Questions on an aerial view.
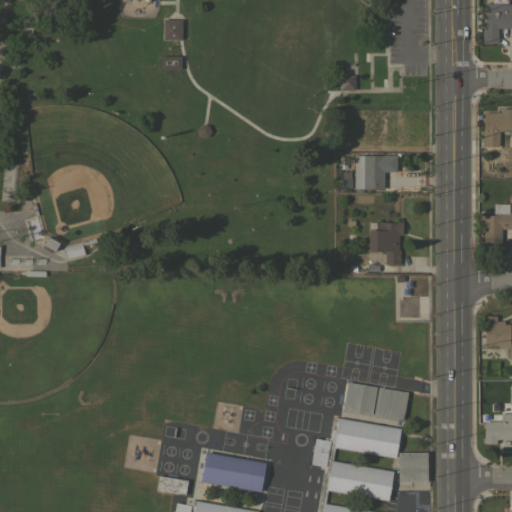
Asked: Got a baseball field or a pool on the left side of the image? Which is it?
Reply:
baseball field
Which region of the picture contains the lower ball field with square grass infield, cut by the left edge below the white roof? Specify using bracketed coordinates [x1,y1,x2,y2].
[0,278,116,405]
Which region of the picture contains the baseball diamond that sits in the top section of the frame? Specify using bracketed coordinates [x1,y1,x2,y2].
[48,165,114,235]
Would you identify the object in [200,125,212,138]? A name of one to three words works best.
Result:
gazebo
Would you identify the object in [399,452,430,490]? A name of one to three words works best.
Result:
building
